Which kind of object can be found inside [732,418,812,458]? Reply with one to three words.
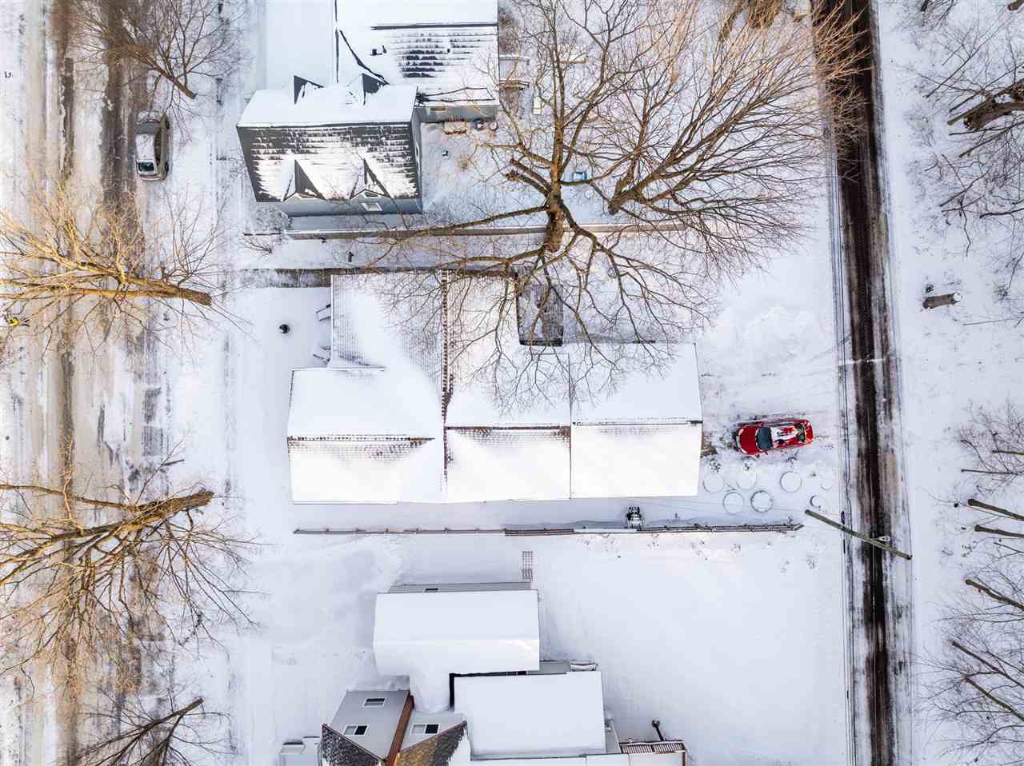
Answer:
car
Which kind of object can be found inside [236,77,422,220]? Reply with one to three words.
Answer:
house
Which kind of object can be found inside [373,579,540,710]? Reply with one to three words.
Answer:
house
